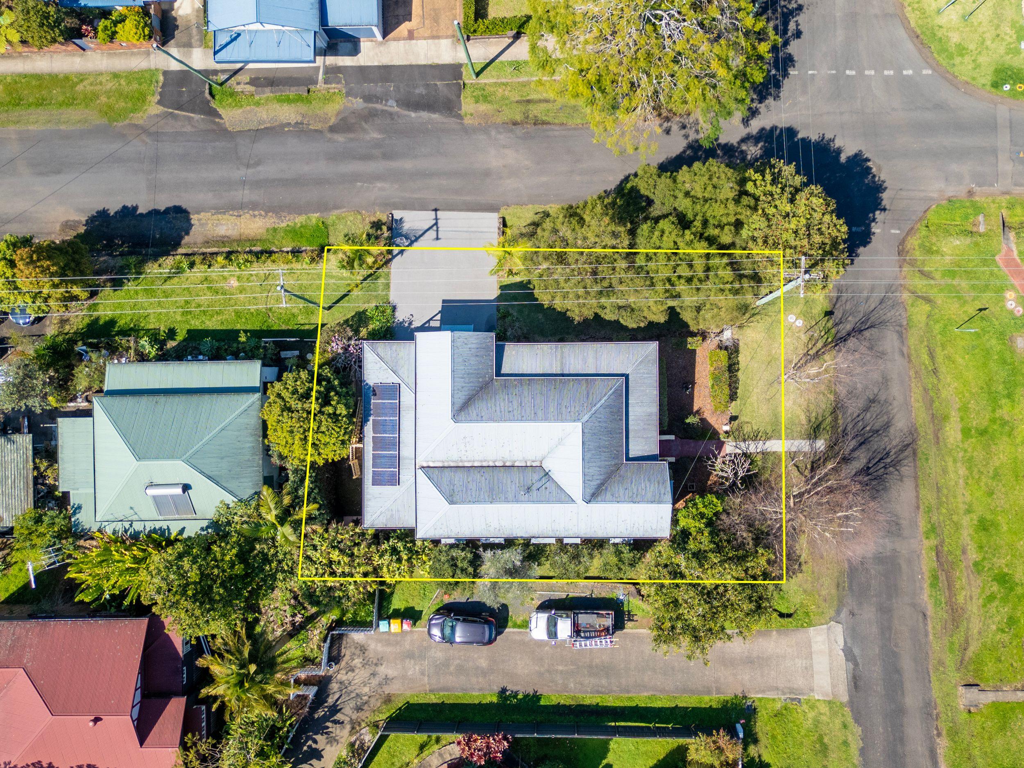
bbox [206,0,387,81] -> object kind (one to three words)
building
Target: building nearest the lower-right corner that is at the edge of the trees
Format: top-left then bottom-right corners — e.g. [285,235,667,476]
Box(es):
[362,325,674,544]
